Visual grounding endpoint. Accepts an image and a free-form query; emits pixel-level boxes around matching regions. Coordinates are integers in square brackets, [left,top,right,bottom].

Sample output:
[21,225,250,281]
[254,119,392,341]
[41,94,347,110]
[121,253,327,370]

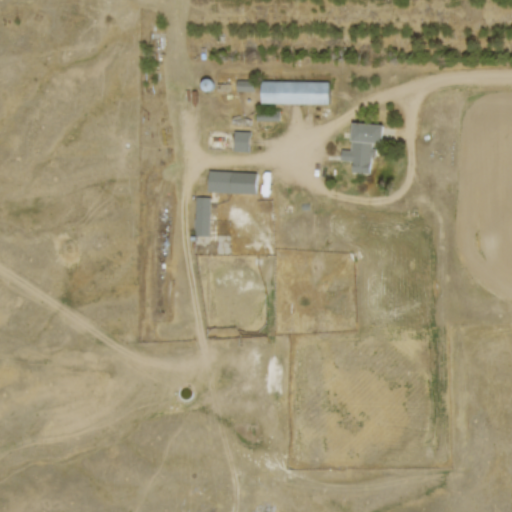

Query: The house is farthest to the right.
[341,124,384,173]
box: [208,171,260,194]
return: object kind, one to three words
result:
building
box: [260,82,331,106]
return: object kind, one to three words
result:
barn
